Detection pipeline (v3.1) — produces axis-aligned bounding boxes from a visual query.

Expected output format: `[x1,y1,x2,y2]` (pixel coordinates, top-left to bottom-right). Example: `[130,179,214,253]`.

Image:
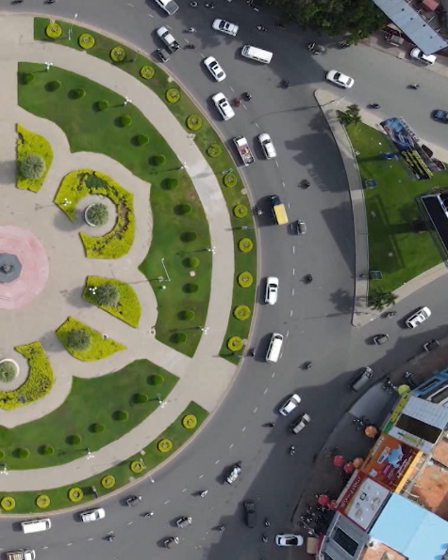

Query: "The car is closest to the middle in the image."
[265,277,279,304]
